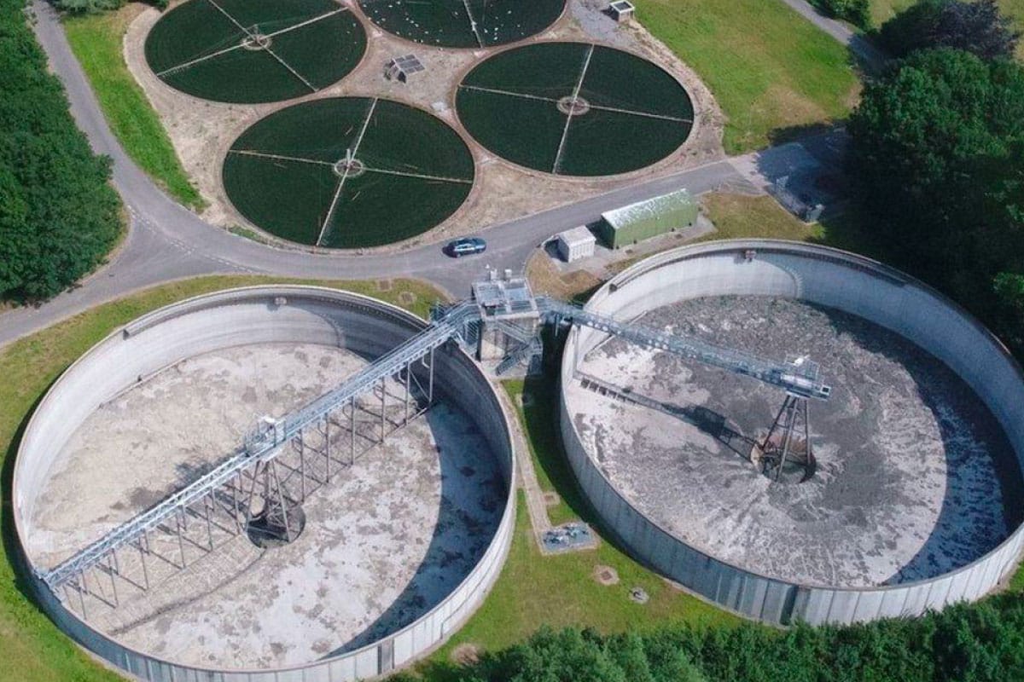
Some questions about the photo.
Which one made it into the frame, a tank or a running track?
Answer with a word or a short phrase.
tank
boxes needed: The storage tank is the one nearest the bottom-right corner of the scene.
[552,239,1024,636]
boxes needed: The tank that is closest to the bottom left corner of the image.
[11,284,519,682]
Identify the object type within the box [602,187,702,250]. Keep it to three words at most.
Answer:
building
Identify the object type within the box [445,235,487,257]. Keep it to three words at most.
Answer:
car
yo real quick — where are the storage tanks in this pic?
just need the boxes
[11,284,519,682]
[552,239,1024,636]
